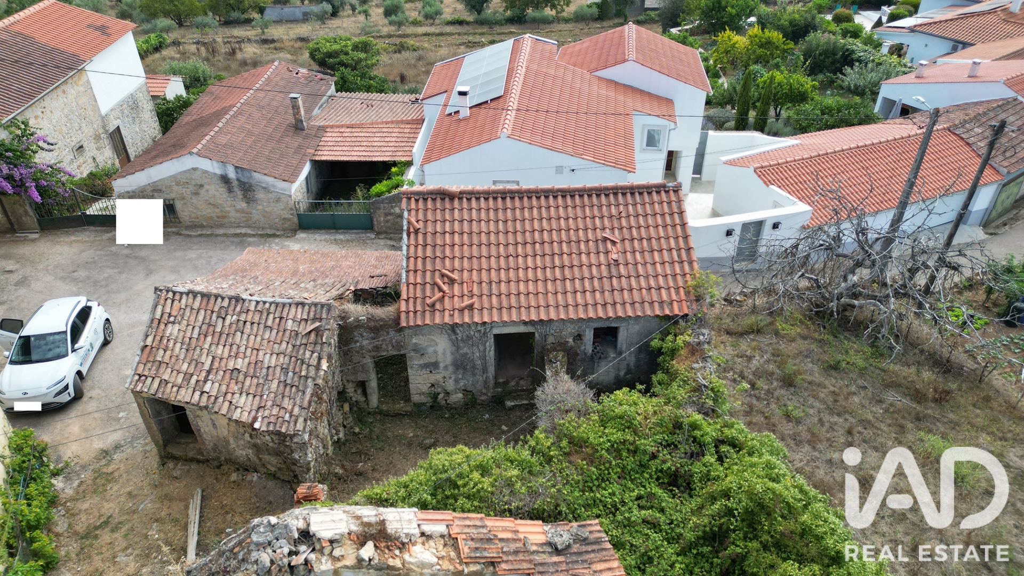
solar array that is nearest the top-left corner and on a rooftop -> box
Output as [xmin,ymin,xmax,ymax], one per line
[445,34,515,111]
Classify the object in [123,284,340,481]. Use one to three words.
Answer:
shed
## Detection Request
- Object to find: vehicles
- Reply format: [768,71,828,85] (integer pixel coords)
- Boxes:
[0,297,111,414]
